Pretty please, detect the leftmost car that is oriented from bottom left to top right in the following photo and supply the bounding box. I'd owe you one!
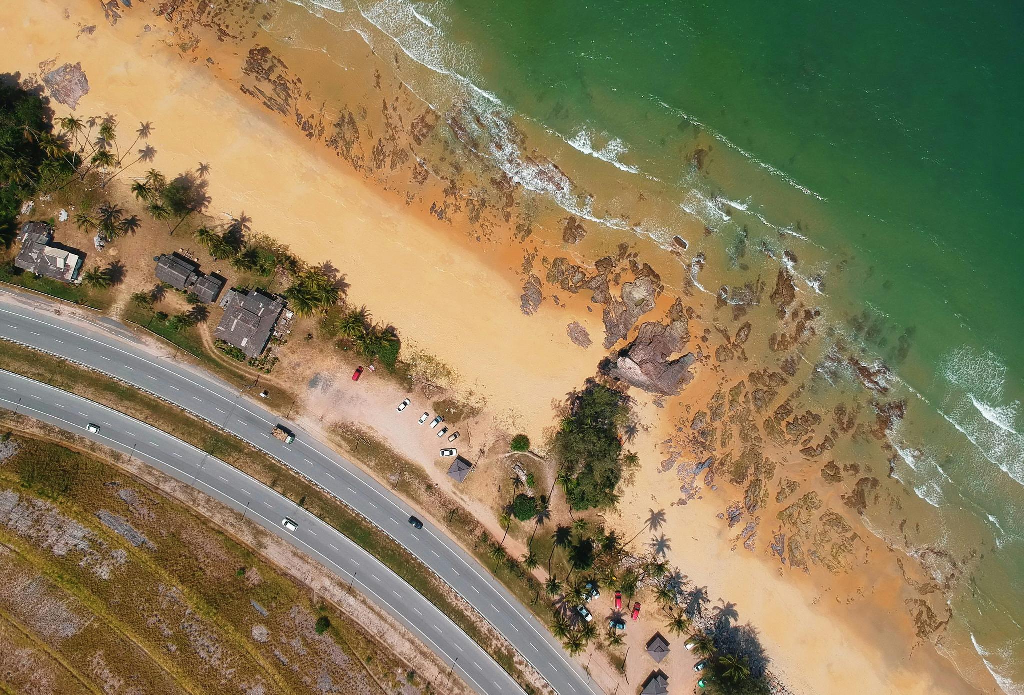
[350,365,364,382]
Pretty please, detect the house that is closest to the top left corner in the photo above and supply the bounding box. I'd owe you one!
[15,223,83,282]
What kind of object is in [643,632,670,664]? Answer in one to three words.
building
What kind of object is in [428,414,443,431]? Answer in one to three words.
car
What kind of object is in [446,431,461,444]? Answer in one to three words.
vehicle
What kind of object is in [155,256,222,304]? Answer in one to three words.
house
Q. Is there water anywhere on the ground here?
Yes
